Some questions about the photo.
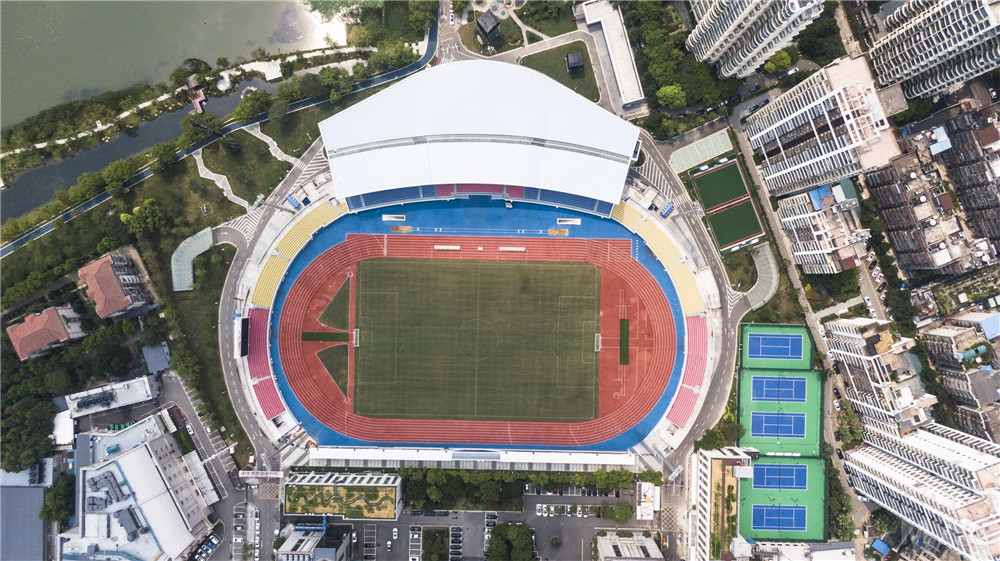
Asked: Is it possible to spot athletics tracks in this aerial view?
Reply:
Yes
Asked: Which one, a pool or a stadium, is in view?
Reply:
stadium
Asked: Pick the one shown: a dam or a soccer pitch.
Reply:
soccer pitch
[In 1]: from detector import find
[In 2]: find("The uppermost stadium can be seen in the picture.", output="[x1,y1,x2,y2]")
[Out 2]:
[239,59,715,449]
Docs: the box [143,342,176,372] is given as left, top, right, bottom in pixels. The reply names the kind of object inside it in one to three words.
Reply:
shed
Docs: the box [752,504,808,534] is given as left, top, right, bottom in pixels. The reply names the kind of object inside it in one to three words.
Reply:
tennis court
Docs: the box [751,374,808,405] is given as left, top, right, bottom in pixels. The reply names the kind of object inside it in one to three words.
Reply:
tennis court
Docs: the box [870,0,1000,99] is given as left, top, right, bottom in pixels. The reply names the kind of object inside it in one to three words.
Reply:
building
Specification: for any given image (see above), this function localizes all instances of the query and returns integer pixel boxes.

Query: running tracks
[271,199,687,451]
